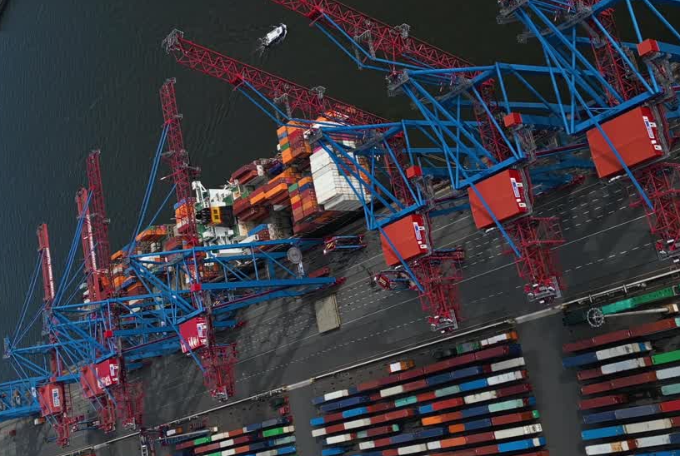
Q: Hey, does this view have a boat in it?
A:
Yes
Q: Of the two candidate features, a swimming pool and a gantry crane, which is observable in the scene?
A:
gantry crane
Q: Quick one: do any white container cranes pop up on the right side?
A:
No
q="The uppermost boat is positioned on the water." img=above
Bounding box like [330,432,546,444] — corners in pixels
[258,26,284,51]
